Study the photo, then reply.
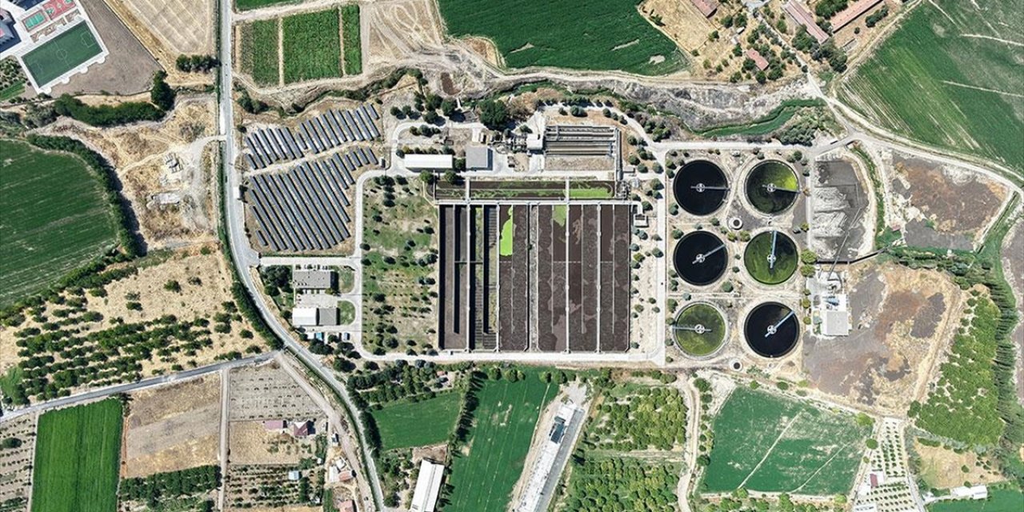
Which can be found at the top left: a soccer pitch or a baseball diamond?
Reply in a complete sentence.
There is a soccer pitch at the top left.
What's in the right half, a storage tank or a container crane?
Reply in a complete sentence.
It is a storage tank that can be seen in the right half.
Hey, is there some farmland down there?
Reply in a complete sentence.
Yes, there's farmland in this view.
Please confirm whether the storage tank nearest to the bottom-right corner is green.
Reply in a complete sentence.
No, from above the storage tank nearest to the bottom-right corner looks black.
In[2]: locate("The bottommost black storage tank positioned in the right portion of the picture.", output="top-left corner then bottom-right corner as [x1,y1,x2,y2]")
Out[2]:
[744,302,800,359]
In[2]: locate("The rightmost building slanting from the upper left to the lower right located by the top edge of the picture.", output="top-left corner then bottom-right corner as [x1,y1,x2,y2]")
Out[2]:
[784,1,828,43]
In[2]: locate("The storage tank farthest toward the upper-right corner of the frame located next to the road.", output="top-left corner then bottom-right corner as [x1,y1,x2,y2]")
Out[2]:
[745,160,802,215]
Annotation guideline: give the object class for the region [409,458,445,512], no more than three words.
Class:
shed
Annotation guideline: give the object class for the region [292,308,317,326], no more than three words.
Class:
building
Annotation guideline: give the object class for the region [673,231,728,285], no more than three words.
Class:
storage tank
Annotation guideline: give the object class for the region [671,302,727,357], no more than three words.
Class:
storage tank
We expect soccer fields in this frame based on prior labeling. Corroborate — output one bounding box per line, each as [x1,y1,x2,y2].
[22,20,102,87]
